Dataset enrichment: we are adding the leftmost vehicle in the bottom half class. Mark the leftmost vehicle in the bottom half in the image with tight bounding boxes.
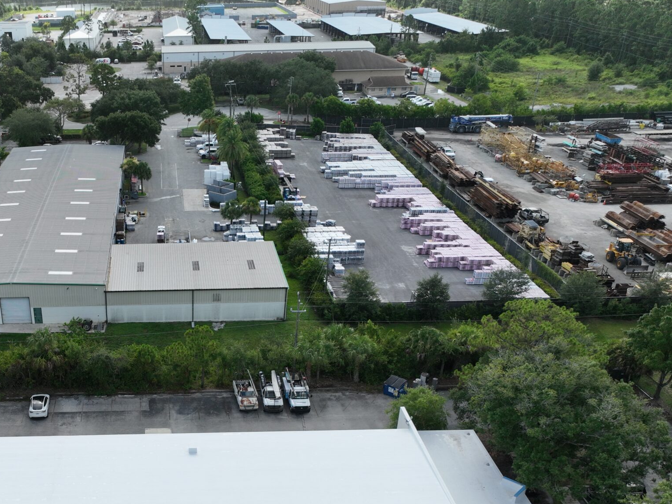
[26,394,48,419]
